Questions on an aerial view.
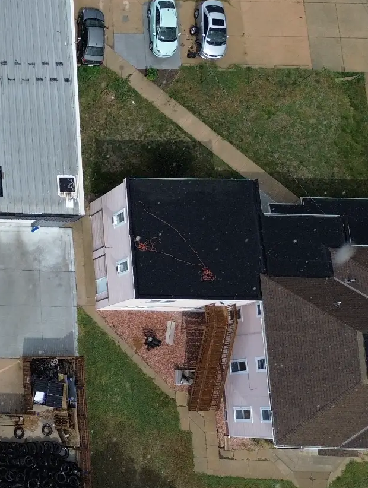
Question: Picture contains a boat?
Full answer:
No, no boat is visible in the view.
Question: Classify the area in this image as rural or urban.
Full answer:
It looks urban.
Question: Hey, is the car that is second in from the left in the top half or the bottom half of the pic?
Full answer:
The top half of the photo is where the car that is second in from the left is.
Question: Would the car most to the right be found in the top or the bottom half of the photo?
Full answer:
The car most to the right sits in the top half of the picture.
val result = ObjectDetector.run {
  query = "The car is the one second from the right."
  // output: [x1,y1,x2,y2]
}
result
[146,0,183,61]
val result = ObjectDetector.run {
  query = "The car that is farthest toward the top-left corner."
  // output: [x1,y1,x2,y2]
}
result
[77,8,112,66]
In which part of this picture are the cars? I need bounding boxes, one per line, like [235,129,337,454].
[77,8,112,66]
[146,0,183,61]
[197,0,233,62]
